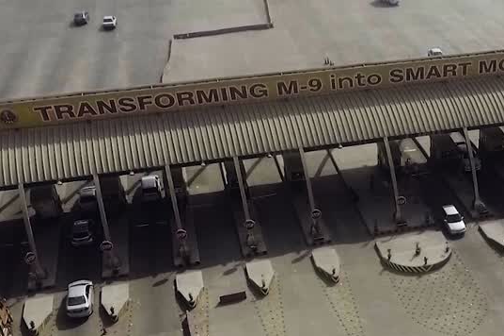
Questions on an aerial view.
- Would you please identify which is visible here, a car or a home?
car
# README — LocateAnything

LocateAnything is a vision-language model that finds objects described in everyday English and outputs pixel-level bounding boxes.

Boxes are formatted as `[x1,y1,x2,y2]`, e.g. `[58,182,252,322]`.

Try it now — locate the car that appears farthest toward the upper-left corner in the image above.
[74,11,91,25]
